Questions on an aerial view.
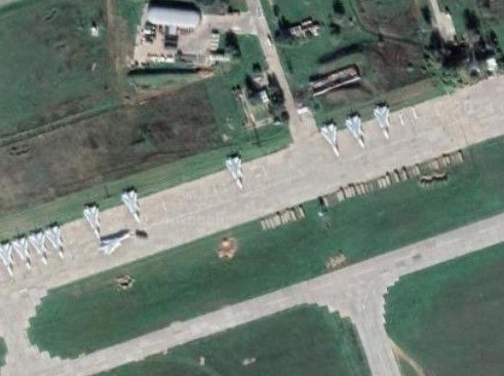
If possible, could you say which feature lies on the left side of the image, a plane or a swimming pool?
plane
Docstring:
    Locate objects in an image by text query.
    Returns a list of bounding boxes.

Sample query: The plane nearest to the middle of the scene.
[227,156,242,188]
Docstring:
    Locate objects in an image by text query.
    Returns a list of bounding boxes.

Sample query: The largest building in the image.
[147,2,202,34]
